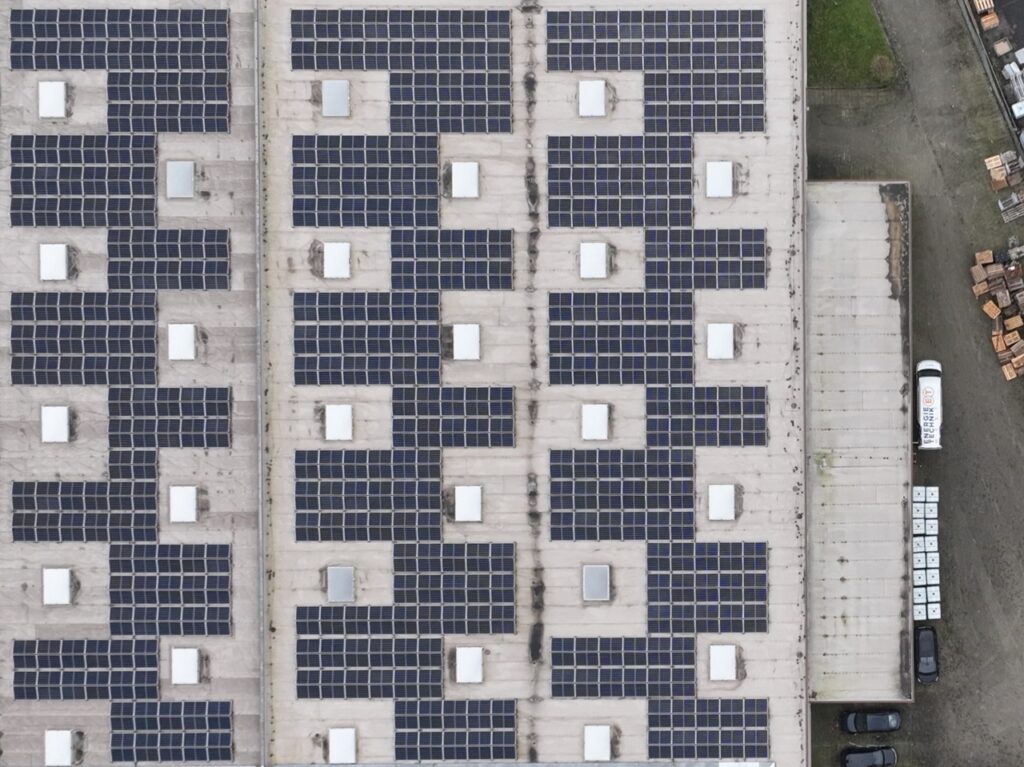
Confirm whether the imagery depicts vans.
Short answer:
Yes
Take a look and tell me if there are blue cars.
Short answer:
No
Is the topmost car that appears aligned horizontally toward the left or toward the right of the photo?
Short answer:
right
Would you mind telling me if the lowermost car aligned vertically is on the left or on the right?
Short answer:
right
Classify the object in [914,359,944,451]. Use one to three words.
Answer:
van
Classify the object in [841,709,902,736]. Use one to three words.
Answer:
car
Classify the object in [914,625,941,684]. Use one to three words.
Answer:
car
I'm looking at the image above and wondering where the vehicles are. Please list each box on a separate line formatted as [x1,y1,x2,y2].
[841,745,898,767]
[914,625,941,684]
[841,709,902,736]
[914,359,944,451]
